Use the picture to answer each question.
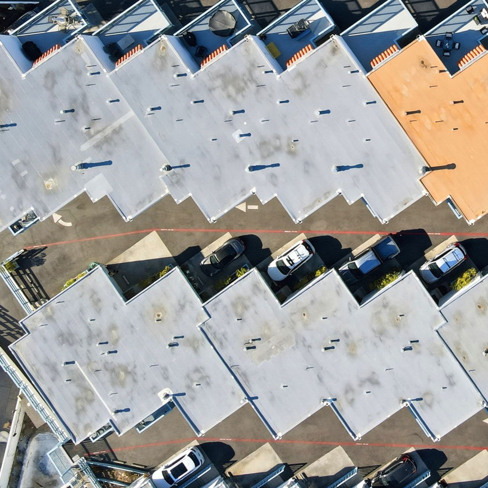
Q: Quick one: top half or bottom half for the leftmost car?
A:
bottom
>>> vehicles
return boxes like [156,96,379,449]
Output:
[264,238,319,284]
[149,443,208,488]
[338,232,403,285]
[415,241,471,286]
[367,452,422,488]
[195,234,252,280]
